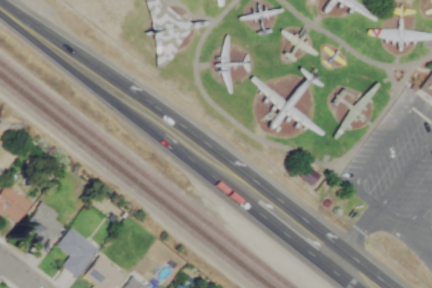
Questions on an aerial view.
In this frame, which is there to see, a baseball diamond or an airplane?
airplane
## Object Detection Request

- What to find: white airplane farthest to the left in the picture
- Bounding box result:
[146,0,210,67]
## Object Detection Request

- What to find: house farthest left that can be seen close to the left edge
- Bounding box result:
[0,187,32,225]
